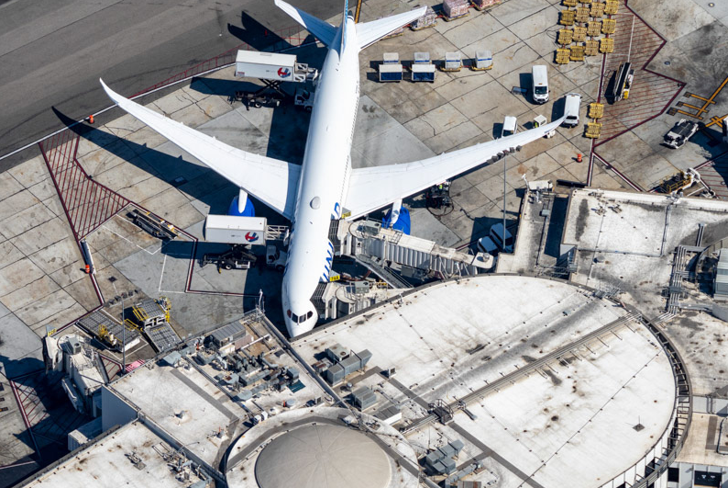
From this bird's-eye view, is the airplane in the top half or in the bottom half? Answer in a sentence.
Seen from above, the airplane lies in the top half of the view.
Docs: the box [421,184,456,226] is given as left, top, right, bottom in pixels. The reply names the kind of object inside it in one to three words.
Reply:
truck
